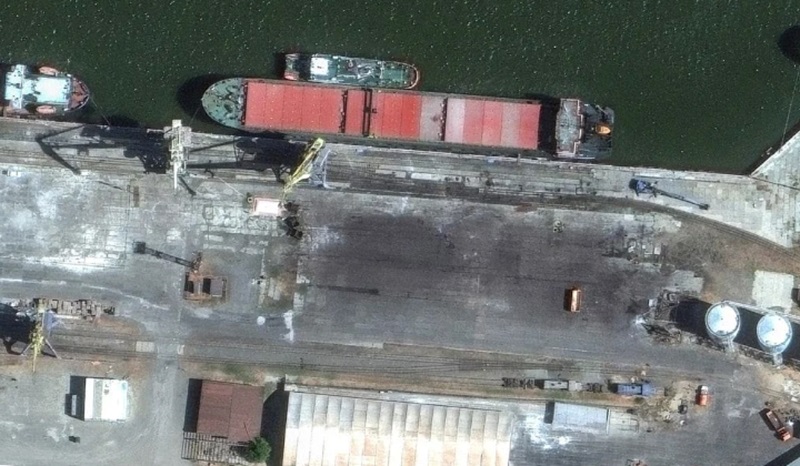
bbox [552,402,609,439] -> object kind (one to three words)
building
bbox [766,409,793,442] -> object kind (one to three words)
truck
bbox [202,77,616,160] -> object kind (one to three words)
ship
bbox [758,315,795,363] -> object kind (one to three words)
silo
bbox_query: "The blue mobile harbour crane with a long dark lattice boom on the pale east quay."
[629,174,711,210]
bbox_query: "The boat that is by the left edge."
[0,67,90,115]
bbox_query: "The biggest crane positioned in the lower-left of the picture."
[17,301,66,383]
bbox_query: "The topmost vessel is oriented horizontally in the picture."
[284,52,421,88]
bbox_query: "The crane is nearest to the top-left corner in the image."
[159,113,201,194]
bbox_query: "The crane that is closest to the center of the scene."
[281,132,334,205]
